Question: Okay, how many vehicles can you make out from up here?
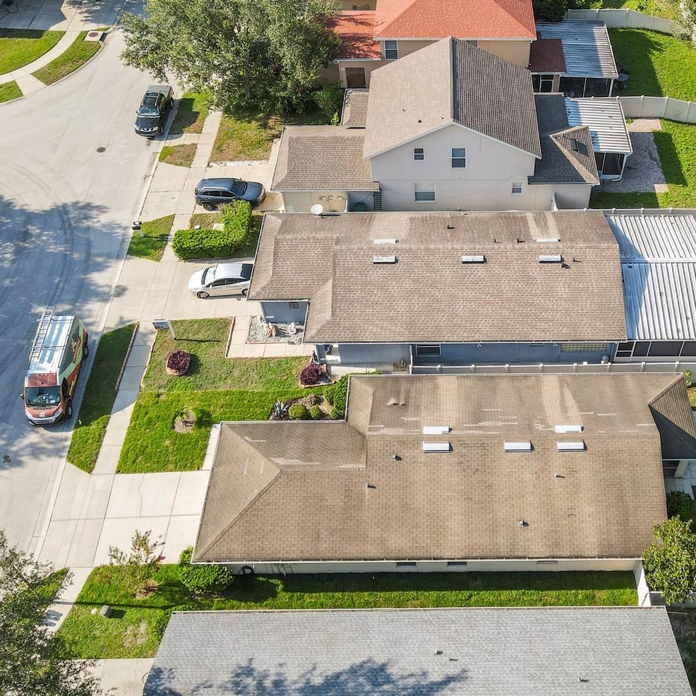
4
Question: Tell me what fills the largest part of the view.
buildings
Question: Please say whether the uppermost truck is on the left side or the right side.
left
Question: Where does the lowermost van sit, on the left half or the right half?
left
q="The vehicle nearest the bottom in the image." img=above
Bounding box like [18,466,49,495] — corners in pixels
[17,317,92,432]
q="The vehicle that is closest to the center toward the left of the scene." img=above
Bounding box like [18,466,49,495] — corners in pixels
[189,263,251,298]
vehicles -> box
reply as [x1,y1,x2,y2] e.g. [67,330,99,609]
[131,85,172,140]
[193,173,270,210]
[17,317,92,432]
[189,263,251,298]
